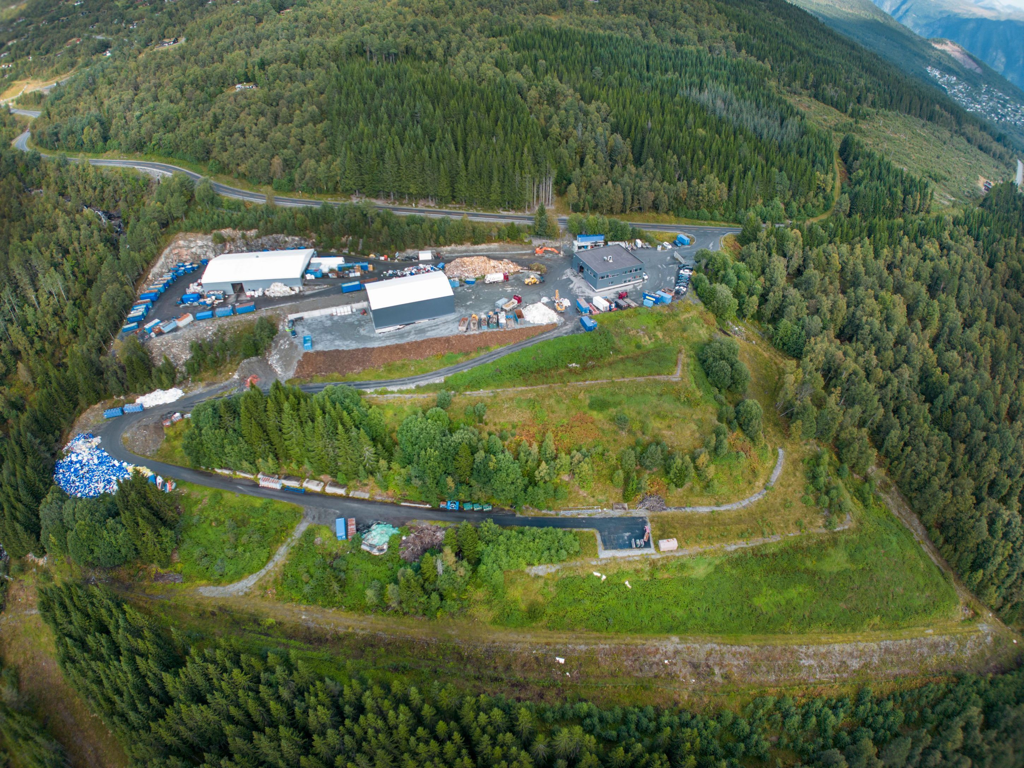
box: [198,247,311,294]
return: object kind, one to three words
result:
building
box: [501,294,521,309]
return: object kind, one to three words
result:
vehicle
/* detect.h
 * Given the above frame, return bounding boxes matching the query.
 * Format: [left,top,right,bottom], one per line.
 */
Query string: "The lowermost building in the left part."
[361,273,455,332]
